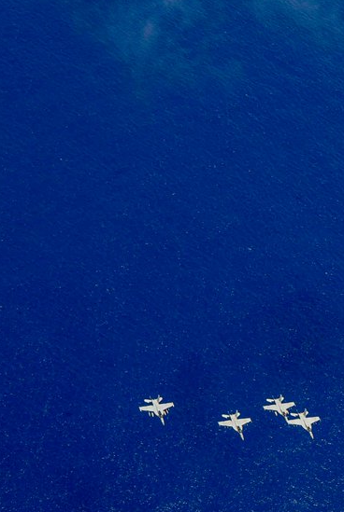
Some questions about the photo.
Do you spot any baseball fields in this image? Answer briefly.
No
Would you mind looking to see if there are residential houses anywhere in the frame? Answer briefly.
No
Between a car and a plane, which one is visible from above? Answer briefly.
plane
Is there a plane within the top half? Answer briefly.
No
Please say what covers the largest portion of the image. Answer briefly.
water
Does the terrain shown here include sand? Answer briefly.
No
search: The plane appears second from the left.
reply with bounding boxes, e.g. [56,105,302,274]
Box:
[218,410,252,440]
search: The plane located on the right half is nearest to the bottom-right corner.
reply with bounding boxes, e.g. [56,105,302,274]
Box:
[287,408,320,439]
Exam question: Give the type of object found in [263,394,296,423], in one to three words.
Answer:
airplane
